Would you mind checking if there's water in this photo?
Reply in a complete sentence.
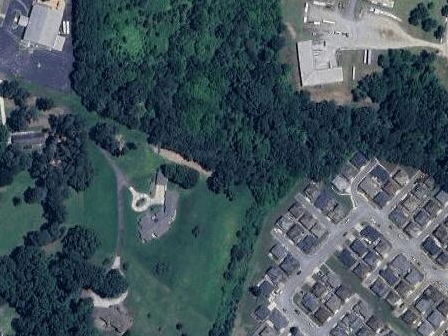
No, there is no water in the image.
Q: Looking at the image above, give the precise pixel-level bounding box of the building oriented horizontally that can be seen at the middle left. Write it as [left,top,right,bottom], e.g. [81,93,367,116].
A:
[4,133,48,149]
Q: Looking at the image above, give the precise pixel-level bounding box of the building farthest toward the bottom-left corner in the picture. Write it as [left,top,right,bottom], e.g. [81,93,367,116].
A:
[92,301,135,335]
